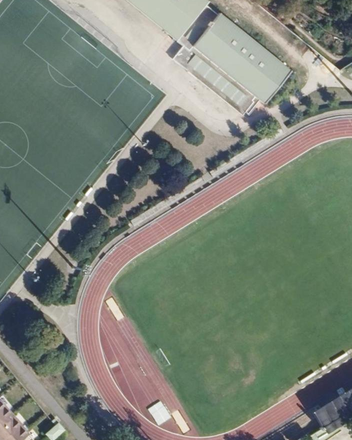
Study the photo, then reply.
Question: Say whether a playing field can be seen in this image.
Yes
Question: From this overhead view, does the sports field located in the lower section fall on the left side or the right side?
right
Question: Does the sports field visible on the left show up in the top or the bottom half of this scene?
top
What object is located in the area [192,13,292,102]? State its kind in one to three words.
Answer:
building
